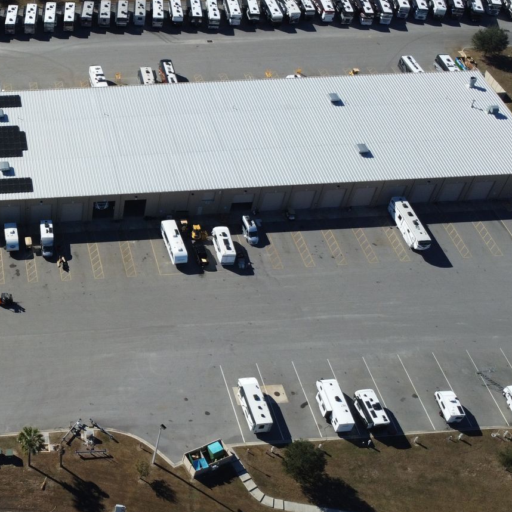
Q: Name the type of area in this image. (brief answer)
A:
parking lot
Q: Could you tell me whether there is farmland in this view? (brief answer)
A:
No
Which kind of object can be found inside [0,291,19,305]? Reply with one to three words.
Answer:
work vehicle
